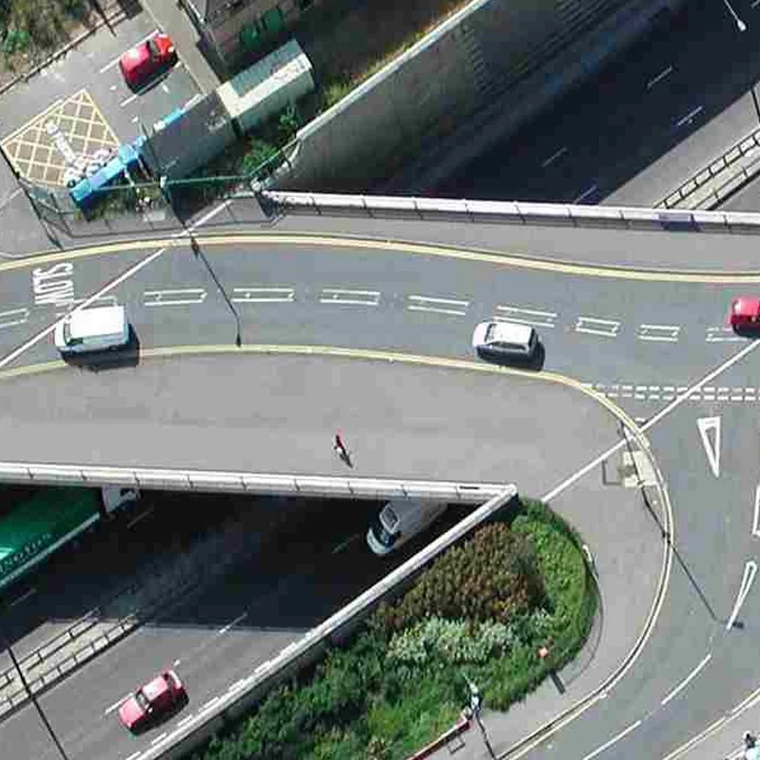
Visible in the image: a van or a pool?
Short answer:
van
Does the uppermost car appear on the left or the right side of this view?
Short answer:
left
